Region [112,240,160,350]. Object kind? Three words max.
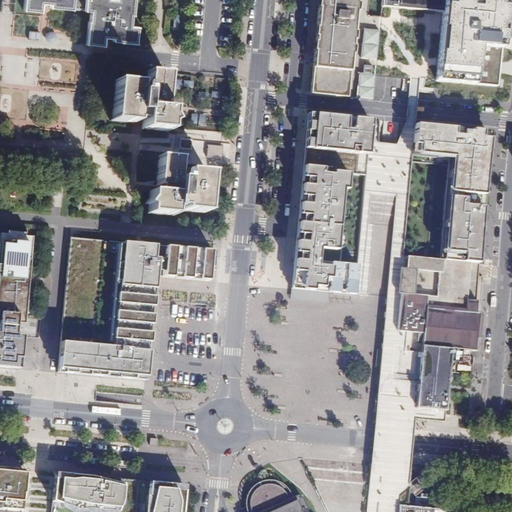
building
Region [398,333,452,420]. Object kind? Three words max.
building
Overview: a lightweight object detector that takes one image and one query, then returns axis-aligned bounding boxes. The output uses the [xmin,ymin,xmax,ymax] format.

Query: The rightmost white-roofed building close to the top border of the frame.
[428,0,512,92]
